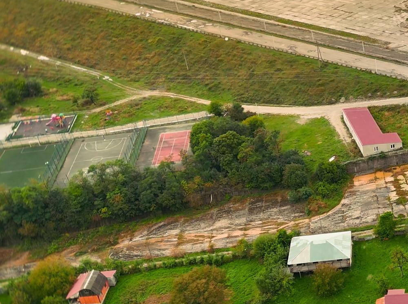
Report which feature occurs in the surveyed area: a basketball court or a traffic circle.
basketball court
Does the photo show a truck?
No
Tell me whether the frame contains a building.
Yes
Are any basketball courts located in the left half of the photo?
Yes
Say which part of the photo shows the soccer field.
left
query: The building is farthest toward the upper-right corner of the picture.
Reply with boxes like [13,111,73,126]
[343,107,402,154]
